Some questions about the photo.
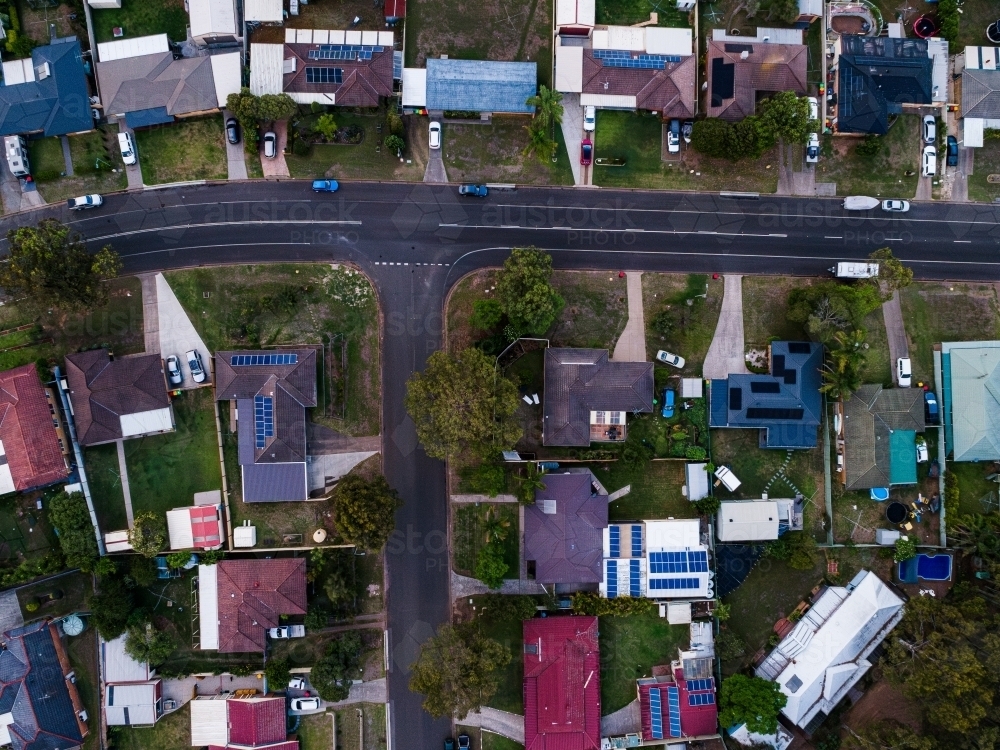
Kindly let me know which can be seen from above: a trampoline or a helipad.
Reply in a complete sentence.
The one in the frame is a trampoline.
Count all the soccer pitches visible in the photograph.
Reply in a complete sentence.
Not a single soccer pitch can be seen.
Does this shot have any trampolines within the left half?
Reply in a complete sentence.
No, I see no trampoline within the left half.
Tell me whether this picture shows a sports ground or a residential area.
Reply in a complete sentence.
The picture captures a residential area.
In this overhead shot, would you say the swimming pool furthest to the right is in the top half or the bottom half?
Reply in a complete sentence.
Seen from above, the swimming pool furthest to the right lies in the bottom half of the view.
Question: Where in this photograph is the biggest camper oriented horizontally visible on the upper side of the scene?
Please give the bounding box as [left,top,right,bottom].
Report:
[823,262,877,278]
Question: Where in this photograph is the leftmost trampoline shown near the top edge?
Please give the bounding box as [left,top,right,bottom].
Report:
[912,14,935,37]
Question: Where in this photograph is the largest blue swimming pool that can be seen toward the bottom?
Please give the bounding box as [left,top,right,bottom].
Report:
[918,553,952,581]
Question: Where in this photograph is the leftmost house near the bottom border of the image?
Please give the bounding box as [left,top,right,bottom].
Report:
[0,619,90,750]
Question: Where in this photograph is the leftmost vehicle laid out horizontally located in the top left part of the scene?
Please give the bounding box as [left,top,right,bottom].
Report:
[68,193,104,210]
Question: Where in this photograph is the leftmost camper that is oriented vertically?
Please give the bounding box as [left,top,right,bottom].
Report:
[7,136,34,185]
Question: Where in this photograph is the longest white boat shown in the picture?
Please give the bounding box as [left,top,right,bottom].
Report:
[840,195,881,211]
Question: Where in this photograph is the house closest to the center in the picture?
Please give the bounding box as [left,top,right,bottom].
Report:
[542,348,654,447]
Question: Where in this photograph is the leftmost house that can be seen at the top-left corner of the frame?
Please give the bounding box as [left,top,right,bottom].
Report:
[0,35,99,141]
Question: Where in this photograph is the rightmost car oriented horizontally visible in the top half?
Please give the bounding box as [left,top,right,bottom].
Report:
[881,199,909,212]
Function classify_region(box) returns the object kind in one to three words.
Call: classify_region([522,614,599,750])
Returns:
house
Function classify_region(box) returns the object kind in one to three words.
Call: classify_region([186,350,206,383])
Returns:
car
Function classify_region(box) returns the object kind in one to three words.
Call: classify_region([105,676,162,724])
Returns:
building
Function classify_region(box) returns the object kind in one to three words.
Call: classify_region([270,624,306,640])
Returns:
vehicle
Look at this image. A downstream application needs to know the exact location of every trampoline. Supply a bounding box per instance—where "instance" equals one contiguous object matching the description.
[885,502,907,523]
[986,18,1000,43]
[912,14,935,37]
